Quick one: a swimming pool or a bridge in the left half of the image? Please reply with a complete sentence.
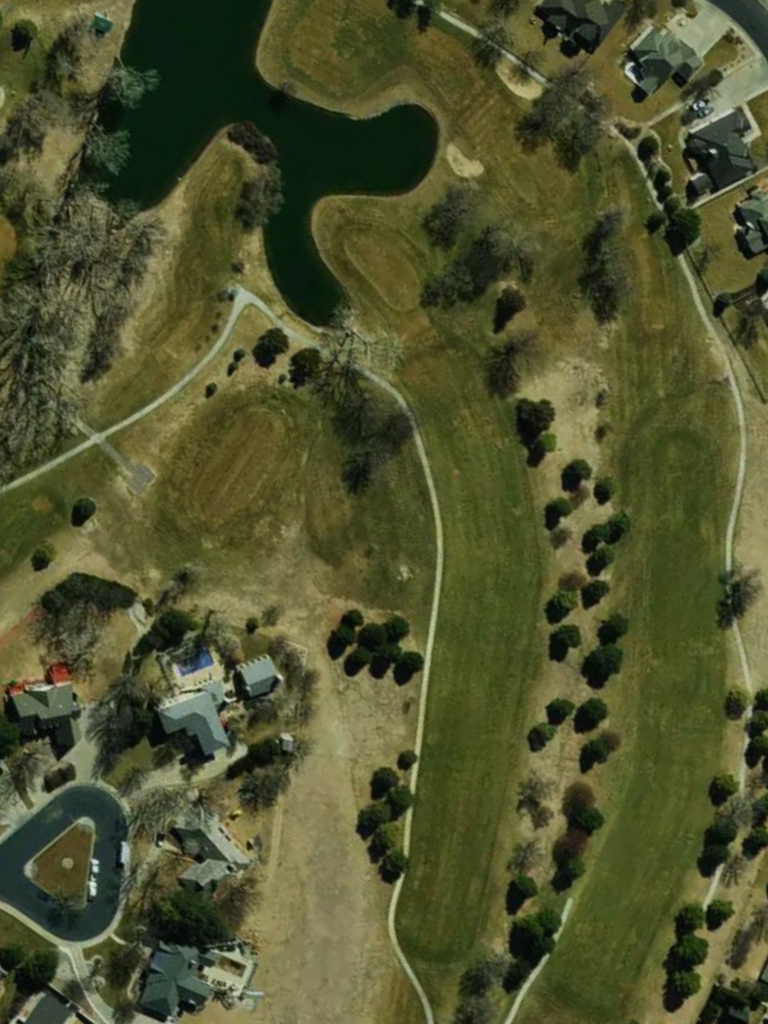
Visible in the left half of the image is a swimming pool.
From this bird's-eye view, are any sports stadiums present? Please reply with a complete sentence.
No, the photo shows no sports stadium.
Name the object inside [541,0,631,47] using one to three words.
house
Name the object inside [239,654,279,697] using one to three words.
building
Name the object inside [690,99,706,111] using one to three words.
vehicle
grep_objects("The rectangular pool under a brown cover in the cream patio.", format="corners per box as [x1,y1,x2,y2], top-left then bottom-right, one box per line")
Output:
[216,954,248,978]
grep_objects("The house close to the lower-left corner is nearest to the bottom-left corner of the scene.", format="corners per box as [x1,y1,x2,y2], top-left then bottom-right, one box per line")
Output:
[23,987,74,1024]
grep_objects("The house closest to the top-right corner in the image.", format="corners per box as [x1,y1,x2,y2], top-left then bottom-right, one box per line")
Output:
[632,28,702,94]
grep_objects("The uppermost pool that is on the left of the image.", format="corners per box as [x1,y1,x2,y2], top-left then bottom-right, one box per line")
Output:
[176,646,215,678]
